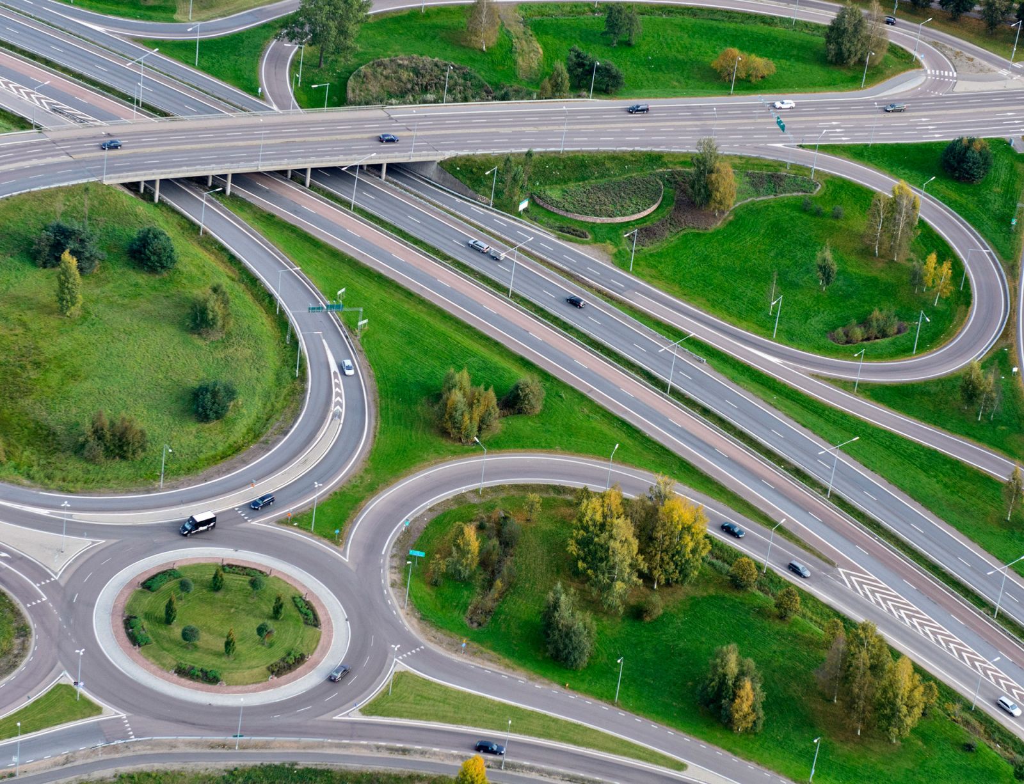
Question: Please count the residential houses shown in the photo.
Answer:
0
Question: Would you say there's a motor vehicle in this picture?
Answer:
Yes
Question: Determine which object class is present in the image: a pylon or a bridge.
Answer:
bridge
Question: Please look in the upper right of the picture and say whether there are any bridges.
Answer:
No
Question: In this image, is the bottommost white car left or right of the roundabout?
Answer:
to the right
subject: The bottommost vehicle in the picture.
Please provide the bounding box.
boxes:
[475,739,504,756]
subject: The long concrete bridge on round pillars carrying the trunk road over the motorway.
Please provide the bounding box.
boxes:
[41,103,493,213]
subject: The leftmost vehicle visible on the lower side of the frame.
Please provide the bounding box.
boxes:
[182,511,215,536]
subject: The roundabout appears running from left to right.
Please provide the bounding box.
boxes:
[0,507,769,784]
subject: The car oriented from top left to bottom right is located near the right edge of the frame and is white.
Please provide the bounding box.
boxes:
[995,696,1023,716]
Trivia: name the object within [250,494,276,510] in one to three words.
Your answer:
car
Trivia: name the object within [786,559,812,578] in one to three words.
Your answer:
car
